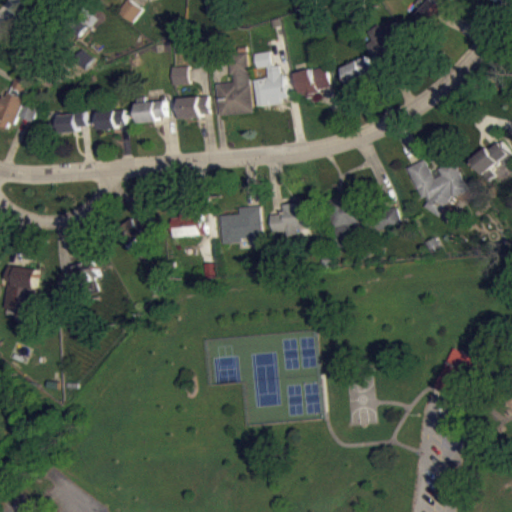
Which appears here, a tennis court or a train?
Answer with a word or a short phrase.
tennis court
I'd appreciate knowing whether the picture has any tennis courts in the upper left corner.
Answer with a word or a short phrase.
No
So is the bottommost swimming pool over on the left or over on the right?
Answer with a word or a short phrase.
left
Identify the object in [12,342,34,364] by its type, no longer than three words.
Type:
swimming pool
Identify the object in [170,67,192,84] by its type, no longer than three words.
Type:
building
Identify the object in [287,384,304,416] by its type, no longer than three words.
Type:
sports court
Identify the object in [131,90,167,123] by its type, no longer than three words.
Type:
house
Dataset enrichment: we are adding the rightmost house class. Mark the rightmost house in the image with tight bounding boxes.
[466,140,510,178]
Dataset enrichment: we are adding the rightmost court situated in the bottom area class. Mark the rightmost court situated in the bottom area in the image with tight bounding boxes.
[349,374,378,428]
